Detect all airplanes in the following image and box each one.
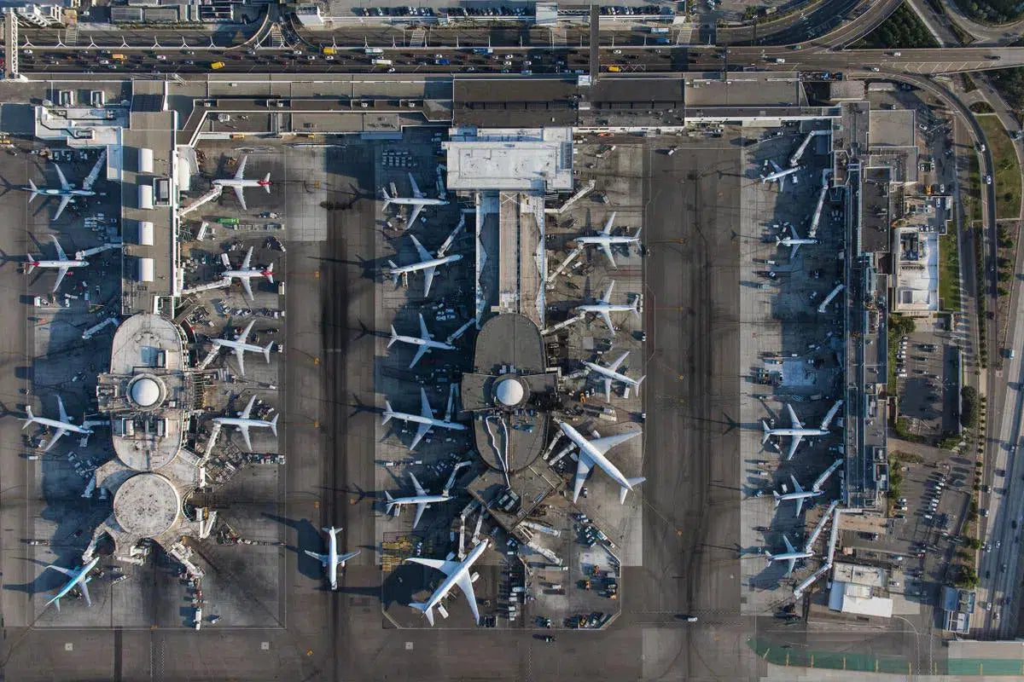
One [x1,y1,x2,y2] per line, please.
[764,404,830,461]
[560,423,647,505]
[385,473,453,529]
[21,395,94,453]
[574,211,640,268]
[23,233,89,293]
[383,173,449,229]
[389,313,456,369]
[213,155,274,210]
[306,523,361,590]
[584,349,645,401]
[776,224,821,260]
[759,157,804,192]
[211,318,273,375]
[764,535,802,579]
[38,557,100,613]
[222,246,276,301]
[26,162,96,222]
[575,281,639,336]
[213,393,278,452]
[385,234,463,296]
[379,389,466,451]
[774,473,824,519]
[408,539,488,627]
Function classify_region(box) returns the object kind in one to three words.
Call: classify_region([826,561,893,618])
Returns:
building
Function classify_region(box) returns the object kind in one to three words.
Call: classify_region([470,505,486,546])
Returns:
jet bridge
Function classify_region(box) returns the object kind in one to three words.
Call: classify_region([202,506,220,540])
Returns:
jet bridge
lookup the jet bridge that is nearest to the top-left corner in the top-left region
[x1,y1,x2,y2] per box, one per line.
[80,148,106,195]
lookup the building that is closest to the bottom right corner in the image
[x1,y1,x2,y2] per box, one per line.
[937,584,976,634]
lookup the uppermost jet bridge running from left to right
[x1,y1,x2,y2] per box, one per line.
[71,243,121,260]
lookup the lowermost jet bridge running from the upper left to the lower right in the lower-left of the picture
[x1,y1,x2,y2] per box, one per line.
[169,548,209,583]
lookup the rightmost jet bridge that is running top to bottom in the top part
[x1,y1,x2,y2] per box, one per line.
[806,168,832,242]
